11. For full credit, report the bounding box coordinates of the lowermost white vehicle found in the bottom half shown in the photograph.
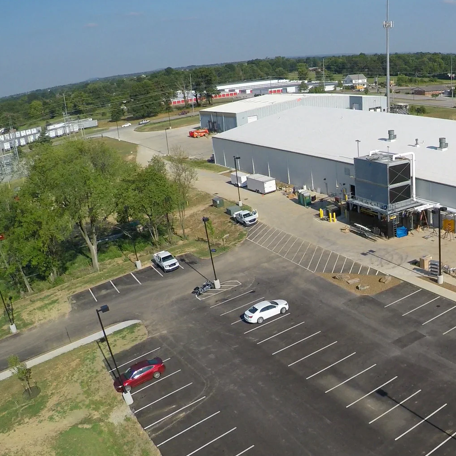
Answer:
[243,299,290,324]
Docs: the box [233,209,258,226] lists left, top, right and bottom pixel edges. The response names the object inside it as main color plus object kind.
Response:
white vehicle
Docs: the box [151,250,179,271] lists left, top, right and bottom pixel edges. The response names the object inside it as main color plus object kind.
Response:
white vehicle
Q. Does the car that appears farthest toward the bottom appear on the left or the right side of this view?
left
